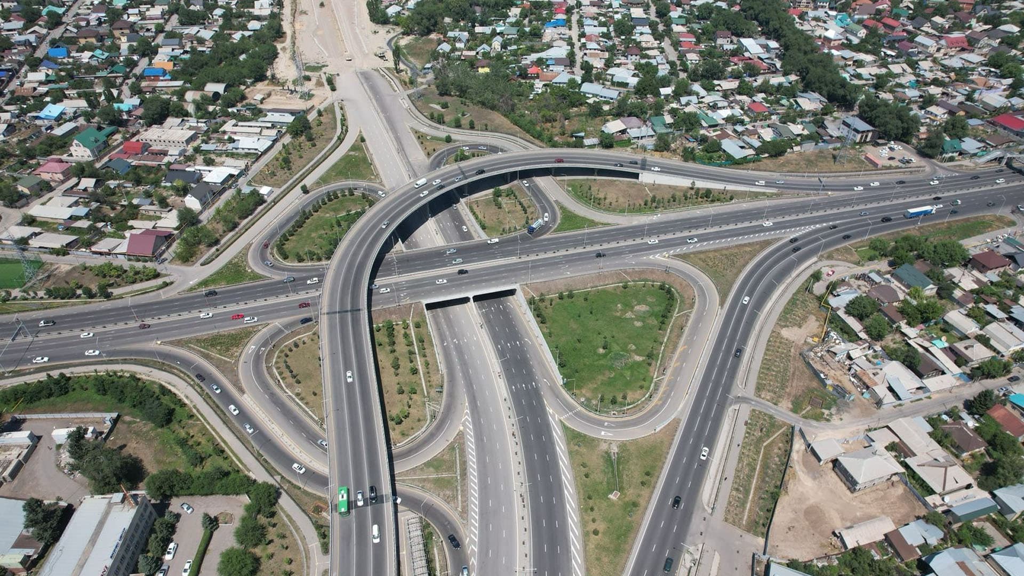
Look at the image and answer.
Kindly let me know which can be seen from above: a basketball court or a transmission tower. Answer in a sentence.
This aerial view contains a transmission tower.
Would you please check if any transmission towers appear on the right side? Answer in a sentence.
Yes, there is a transmission tower on the right side.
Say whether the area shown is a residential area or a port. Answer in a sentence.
This looks like a residential area.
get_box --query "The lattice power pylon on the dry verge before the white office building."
[829,101,864,167]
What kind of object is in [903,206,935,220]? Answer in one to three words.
vehicle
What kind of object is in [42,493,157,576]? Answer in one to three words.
building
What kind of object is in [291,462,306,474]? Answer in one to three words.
vehicle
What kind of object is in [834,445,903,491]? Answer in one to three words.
house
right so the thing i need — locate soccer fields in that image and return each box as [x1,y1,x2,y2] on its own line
[0,250,43,289]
